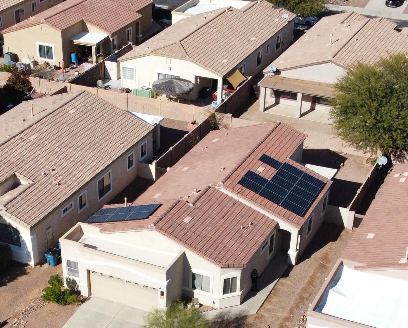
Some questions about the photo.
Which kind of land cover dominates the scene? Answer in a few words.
buildings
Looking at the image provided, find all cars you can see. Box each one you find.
[291,9,320,26]
[385,0,406,8]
